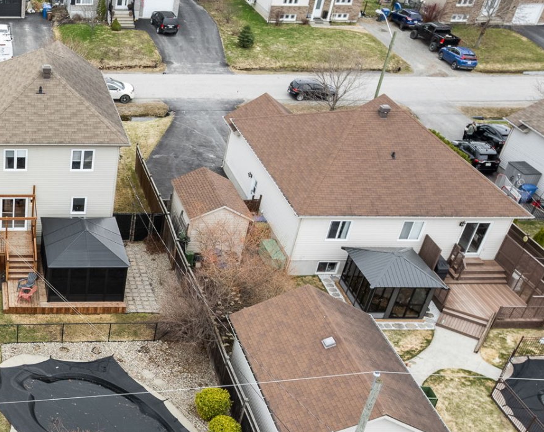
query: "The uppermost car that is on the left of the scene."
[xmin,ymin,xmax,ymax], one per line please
[151,12,179,33]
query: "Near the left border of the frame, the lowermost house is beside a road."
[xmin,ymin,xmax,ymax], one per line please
[0,40,130,247]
